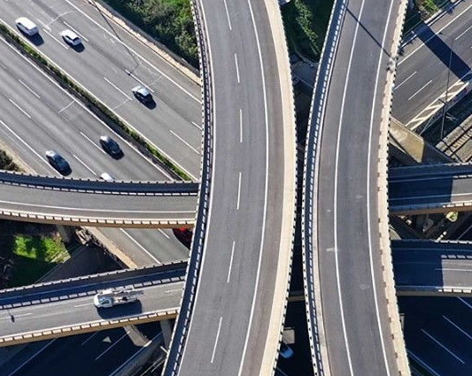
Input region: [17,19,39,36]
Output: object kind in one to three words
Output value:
car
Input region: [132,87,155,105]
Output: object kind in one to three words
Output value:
car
